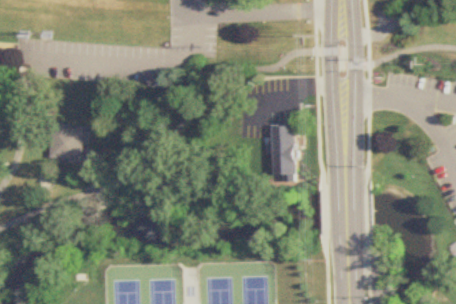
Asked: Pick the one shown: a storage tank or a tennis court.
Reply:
tennis court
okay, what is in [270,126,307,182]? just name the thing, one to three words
house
